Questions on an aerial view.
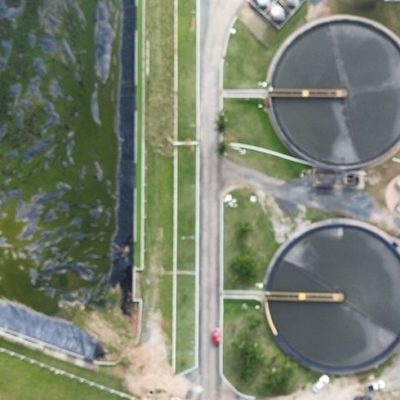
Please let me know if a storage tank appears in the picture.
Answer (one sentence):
Yes, the photo shows a storage tank.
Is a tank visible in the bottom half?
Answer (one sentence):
Yes, looking in the bottom half, one can make out a tank.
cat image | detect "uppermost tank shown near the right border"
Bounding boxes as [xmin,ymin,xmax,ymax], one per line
[263,12,400,169]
